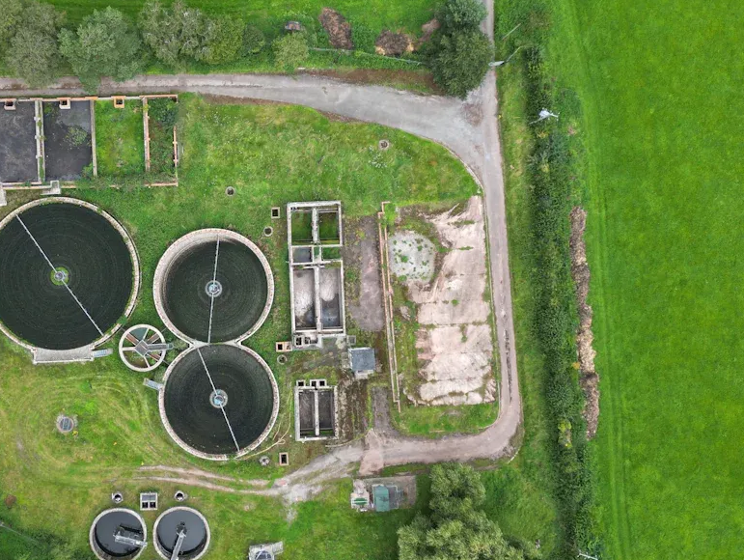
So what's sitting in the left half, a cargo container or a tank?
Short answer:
tank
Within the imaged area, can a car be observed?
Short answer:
No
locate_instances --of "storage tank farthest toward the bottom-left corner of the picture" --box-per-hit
[88,507,147,560]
